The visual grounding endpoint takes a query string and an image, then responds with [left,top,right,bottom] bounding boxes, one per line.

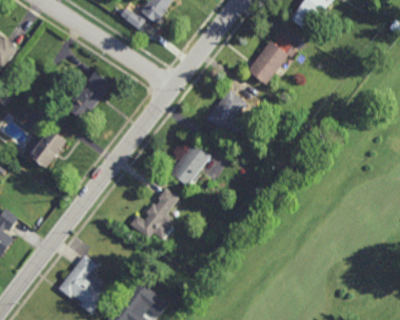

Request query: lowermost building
[112,286,164,320]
